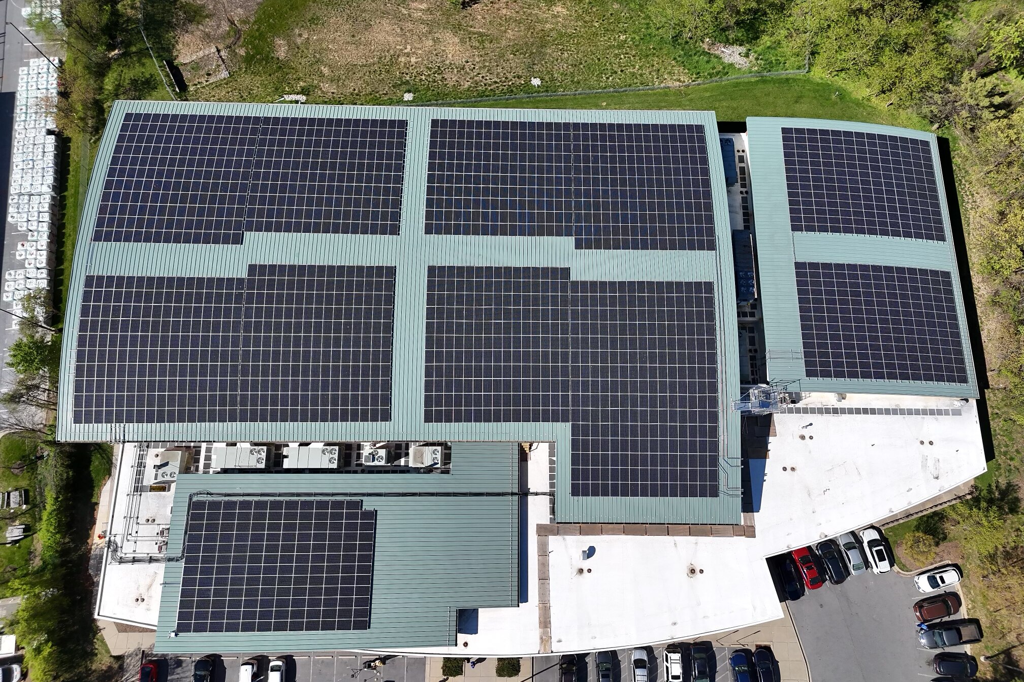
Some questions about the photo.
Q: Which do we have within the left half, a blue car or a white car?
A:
white car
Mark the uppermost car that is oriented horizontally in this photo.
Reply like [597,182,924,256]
[913,567,965,591]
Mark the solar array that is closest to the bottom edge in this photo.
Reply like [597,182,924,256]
[176,499,374,633]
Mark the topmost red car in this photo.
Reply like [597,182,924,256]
[793,549,820,590]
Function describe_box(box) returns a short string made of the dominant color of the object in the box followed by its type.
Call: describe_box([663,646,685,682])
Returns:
white car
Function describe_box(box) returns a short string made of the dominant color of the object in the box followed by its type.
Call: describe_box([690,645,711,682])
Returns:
black car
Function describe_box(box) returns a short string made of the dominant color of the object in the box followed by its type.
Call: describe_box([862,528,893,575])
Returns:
white car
